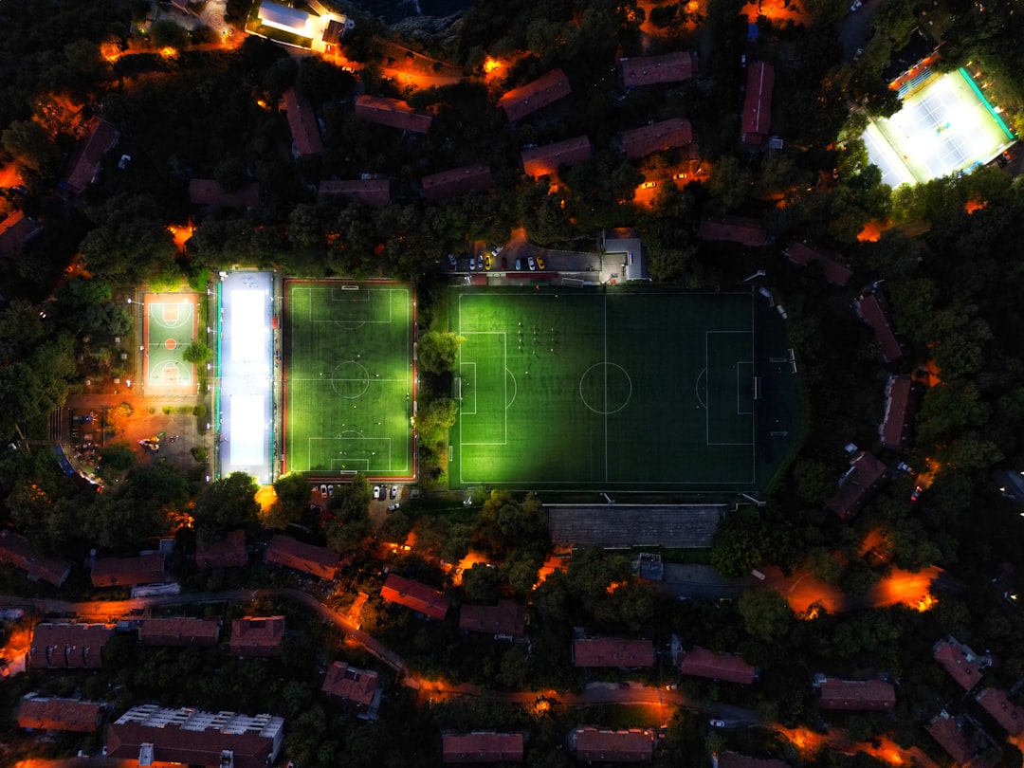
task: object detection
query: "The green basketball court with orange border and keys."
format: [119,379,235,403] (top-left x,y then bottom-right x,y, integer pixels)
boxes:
[144,294,197,395]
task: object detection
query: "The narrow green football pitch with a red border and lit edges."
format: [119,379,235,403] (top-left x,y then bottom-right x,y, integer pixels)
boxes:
[284,279,416,482]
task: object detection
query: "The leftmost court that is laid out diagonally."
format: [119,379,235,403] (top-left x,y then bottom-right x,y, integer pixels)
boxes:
[827,102,916,207]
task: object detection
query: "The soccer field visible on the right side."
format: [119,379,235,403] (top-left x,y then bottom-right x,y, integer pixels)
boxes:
[447,286,806,491]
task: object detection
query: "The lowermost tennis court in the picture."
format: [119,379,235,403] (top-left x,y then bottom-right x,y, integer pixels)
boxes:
[219,378,273,484]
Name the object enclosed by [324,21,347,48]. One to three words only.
building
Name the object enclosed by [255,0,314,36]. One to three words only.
building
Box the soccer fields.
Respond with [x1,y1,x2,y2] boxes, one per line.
[447,286,806,491]
[284,279,416,482]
